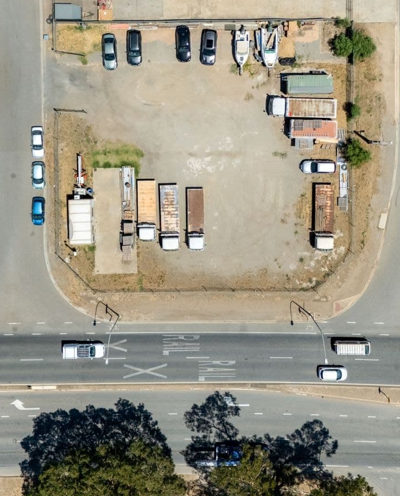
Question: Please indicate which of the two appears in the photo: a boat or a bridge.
boat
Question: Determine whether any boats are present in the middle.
No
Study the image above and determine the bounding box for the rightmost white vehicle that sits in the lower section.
[333,338,369,355]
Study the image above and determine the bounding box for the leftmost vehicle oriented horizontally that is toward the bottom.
[62,342,105,360]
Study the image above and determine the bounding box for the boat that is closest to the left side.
[233,22,250,72]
